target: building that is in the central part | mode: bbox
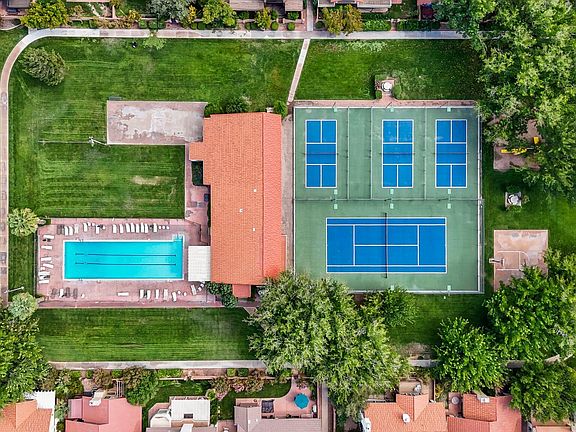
[189,107,287,299]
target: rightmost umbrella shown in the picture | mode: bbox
[294,394,309,410]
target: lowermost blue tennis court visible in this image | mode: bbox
[326,213,447,278]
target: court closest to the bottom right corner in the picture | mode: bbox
[494,230,548,299]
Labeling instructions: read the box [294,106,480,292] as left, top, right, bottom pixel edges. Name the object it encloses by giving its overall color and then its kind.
green sports court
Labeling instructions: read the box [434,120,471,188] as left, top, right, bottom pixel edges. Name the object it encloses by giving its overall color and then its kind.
blue sports court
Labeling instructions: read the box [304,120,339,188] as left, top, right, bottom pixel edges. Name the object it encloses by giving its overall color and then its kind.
blue sports court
